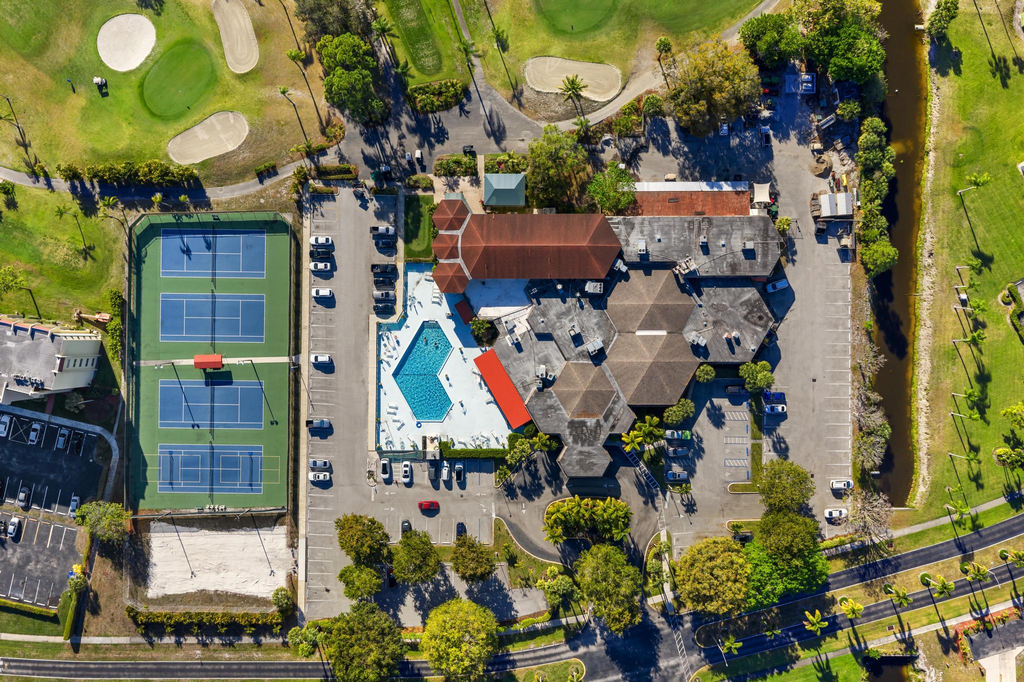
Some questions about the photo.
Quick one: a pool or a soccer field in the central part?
pool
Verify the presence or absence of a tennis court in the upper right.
No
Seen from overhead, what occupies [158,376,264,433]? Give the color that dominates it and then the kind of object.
blue tennis court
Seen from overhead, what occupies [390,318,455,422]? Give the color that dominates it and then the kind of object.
blue swimming pool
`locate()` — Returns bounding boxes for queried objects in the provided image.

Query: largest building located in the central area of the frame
[432,193,783,477]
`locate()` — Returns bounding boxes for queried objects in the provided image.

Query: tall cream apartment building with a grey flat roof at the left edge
[0,316,105,403]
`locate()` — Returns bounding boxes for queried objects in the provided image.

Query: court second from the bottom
[140,441,281,498]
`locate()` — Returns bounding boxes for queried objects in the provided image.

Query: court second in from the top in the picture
[160,289,265,346]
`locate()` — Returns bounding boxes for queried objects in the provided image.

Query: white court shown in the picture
[147,521,288,600]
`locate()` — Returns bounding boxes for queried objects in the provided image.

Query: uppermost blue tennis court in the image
[160,224,266,282]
